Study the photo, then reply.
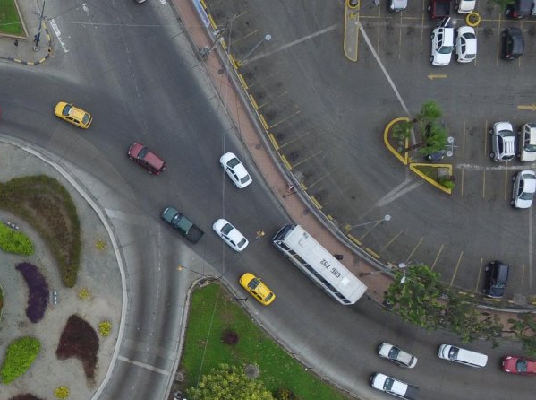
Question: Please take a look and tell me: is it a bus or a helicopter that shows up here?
bus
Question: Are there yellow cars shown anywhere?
Yes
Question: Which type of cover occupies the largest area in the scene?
paved ground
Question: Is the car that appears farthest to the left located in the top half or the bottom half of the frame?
top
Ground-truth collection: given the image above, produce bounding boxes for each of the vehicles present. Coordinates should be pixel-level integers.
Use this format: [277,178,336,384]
[501,26,524,62]
[425,146,446,163]
[513,169,536,210]
[490,121,516,163]
[368,373,421,400]
[217,151,252,190]
[484,259,509,299]
[159,206,207,247]
[435,340,494,367]
[429,0,451,20]
[455,25,478,65]
[455,0,477,16]
[373,341,421,370]
[265,218,365,303]
[431,16,459,68]
[517,122,536,163]
[125,144,167,175]
[51,102,94,127]
[387,0,406,13]
[236,272,277,308]
[210,217,251,254]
